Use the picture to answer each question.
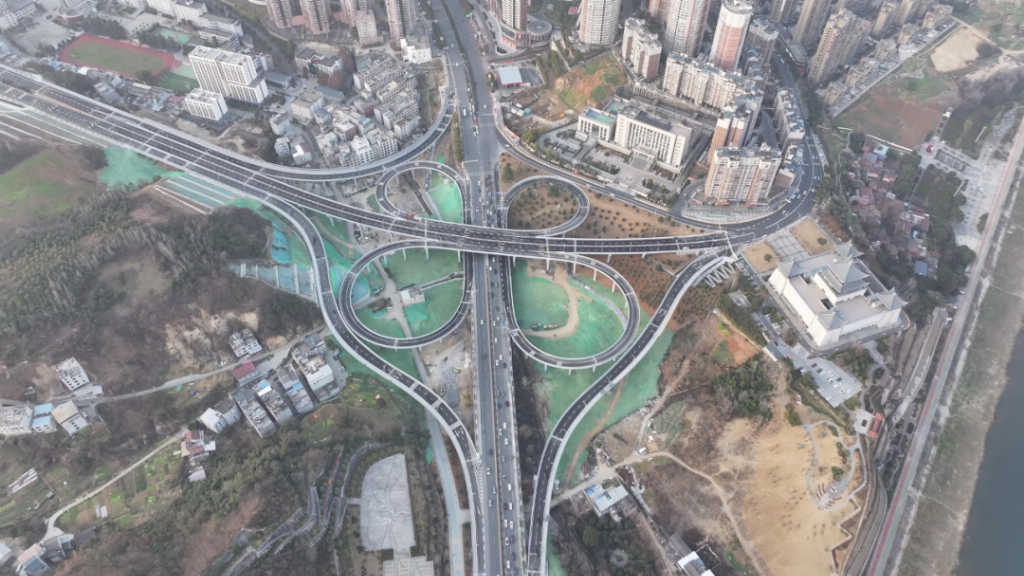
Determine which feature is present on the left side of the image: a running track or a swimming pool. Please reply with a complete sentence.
Looking on the left side of the image, you will find a running track.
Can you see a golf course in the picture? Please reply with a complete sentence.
No, I can't see a single golf course in this photo.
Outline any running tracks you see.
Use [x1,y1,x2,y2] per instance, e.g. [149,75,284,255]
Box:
[59,32,180,78]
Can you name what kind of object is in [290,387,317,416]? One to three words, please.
house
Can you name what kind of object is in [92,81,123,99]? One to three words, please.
shed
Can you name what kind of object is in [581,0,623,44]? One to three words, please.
building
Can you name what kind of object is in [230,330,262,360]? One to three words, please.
house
